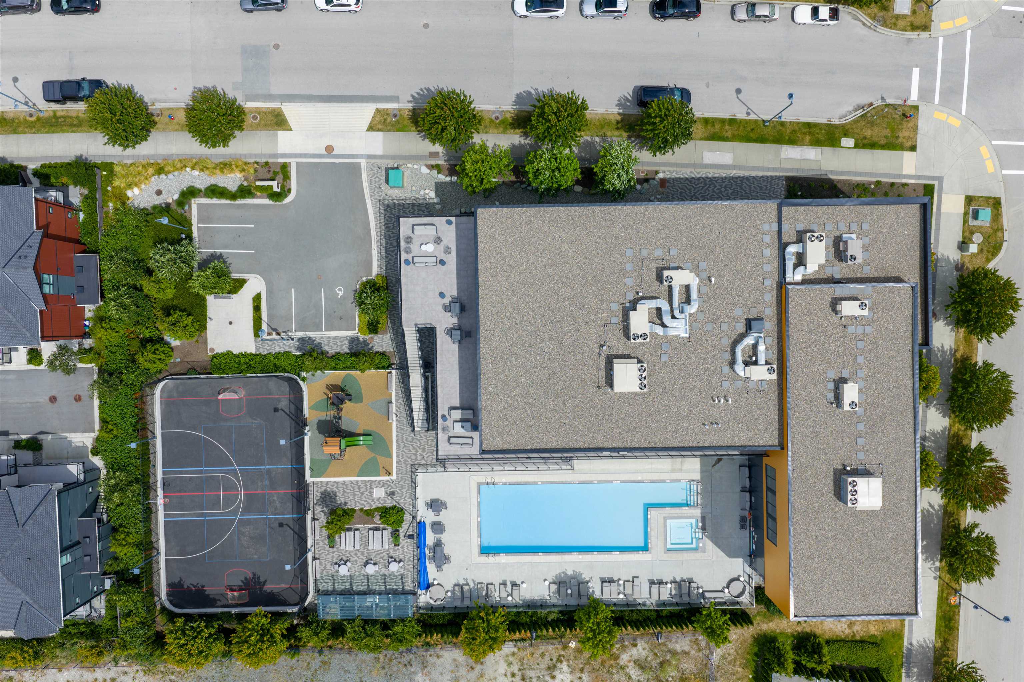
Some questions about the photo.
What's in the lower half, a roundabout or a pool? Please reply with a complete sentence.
You can see a pool in the lower half.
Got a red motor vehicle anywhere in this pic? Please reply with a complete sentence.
No, there isn't any red motor vehicle down there.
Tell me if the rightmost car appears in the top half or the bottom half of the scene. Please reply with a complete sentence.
You can find the rightmost car in the top half.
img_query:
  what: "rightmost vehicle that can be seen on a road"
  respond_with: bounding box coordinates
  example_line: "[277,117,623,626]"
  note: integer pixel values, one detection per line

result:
[792,3,839,29]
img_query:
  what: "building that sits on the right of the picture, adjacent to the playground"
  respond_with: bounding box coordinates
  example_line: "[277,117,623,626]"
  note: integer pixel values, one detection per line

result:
[397,197,933,621]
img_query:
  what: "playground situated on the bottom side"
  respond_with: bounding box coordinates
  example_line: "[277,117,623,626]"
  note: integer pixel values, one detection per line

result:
[306,370,395,482]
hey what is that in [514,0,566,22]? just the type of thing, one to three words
car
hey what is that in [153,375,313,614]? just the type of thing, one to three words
sports court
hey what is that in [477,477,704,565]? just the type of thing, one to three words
swimming pool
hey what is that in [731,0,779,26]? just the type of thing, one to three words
car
